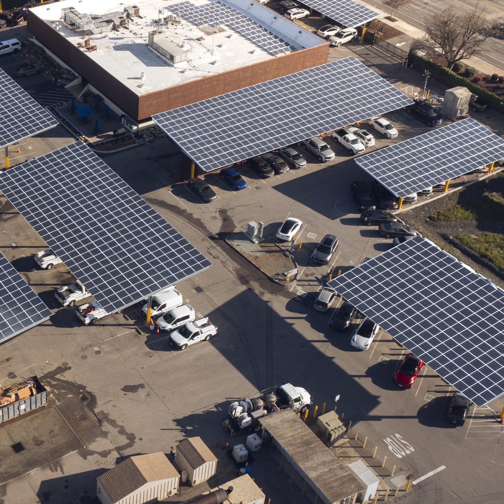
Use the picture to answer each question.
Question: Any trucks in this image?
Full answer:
Yes, the image includes a truck.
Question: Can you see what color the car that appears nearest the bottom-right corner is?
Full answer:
The car that appears nearest the bottom-right corner is black.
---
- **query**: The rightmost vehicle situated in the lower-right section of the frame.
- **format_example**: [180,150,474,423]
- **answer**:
[443,390,475,426]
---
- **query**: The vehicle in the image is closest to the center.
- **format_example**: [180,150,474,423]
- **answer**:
[271,217,304,243]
